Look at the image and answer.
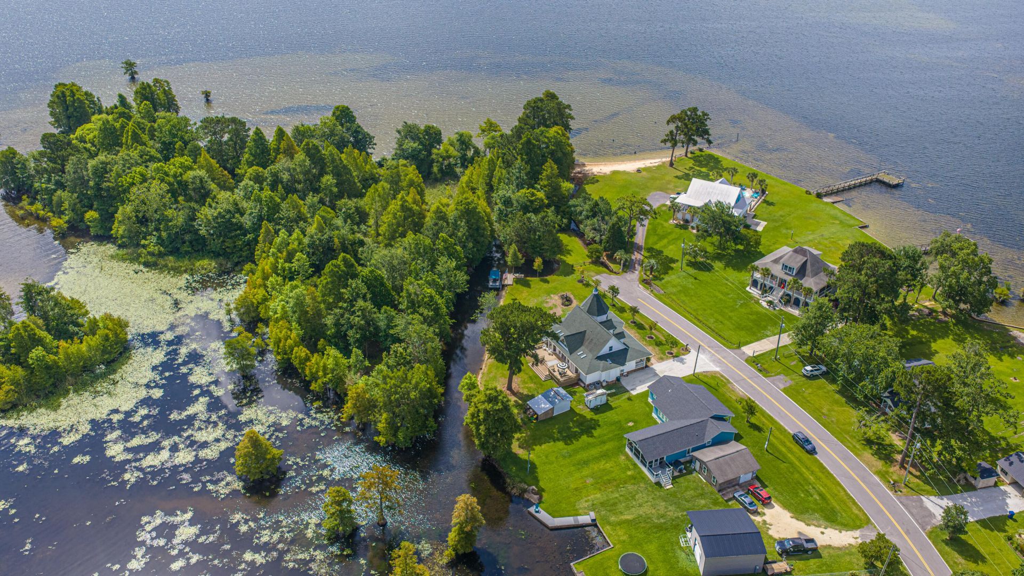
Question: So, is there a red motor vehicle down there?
Yes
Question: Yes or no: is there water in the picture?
Yes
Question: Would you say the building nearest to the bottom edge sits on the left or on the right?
right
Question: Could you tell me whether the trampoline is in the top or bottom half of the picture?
bottom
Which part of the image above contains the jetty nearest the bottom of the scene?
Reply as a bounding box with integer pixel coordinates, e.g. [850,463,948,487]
[528,502,597,532]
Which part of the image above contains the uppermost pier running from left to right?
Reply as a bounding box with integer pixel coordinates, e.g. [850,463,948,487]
[812,169,907,195]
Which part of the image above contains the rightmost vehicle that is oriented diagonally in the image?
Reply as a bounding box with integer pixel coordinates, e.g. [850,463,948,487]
[792,433,818,456]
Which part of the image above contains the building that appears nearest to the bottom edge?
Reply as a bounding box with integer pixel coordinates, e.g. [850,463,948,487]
[686,508,766,572]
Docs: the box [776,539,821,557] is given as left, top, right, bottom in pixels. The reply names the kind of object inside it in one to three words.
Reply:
vehicle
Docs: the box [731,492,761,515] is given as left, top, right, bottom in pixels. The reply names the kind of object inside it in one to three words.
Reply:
car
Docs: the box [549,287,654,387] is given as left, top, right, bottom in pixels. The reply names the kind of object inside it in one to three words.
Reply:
building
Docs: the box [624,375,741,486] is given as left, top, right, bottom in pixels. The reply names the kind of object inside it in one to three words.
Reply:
house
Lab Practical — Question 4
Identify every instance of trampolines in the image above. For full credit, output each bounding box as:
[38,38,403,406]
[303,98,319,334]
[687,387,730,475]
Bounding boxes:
[620,552,648,575]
